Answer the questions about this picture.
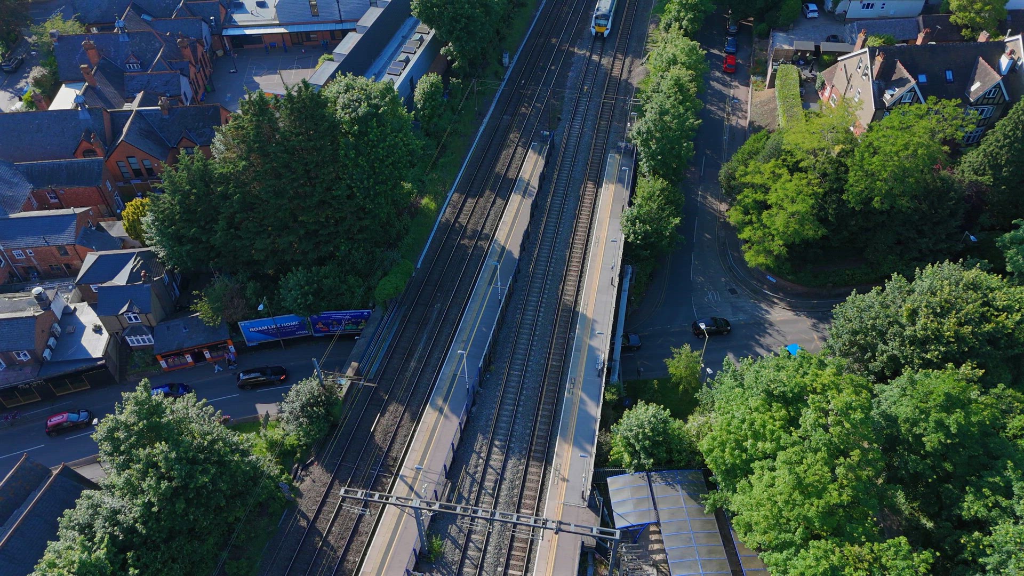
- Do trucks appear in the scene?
No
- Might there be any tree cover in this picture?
Yes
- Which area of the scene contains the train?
top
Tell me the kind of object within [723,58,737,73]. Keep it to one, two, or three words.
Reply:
car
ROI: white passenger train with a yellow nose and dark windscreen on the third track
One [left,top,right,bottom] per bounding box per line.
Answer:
[592,0,619,38]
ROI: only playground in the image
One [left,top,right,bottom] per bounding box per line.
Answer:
[218,42,340,126]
